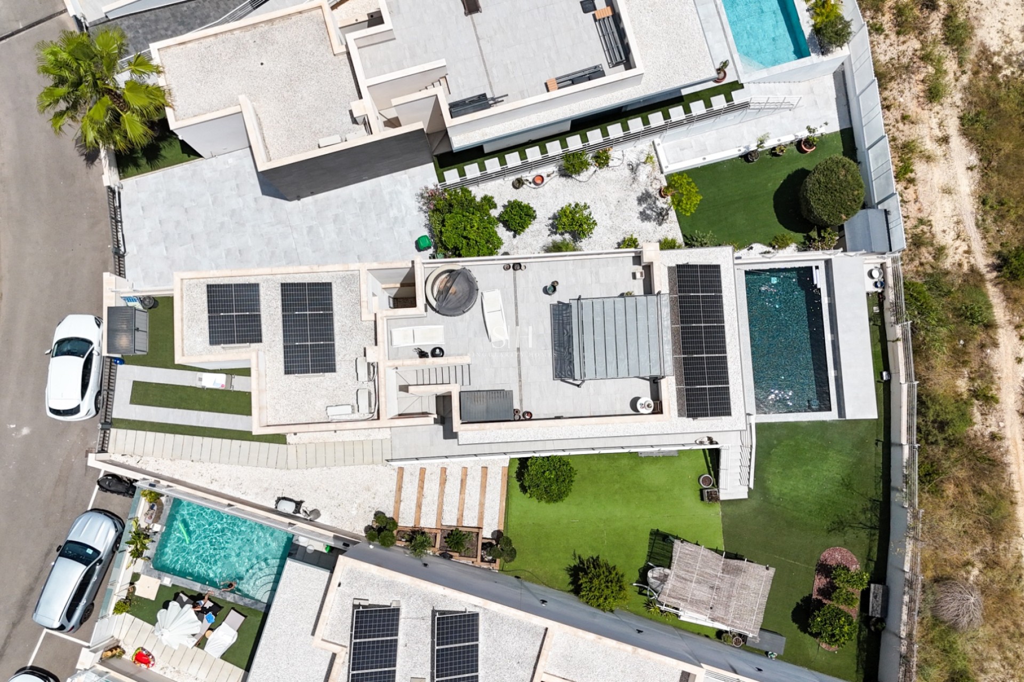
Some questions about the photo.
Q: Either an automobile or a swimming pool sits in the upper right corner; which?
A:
swimming pool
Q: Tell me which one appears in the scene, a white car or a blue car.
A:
white car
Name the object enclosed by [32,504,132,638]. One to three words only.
car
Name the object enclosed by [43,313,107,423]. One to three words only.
car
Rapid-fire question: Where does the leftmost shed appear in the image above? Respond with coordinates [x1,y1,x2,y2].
[107,307,152,356]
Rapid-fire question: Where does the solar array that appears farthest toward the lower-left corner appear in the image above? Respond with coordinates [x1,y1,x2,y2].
[349,597,401,682]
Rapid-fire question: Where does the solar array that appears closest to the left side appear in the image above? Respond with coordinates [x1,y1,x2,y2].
[207,280,262,353]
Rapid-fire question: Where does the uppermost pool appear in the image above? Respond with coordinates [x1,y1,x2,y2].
[720,0,851,85]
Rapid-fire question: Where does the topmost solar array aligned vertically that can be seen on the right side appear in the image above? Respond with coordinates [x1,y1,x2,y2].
[673,257,731,425]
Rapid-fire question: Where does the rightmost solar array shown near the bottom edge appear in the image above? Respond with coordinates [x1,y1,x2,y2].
[435,609,479,682]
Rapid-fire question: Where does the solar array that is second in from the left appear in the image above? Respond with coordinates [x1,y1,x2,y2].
[281,279,336,382]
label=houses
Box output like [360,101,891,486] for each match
[250,528,835,682]
[149,0,718,200]
[174,242,747,445]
